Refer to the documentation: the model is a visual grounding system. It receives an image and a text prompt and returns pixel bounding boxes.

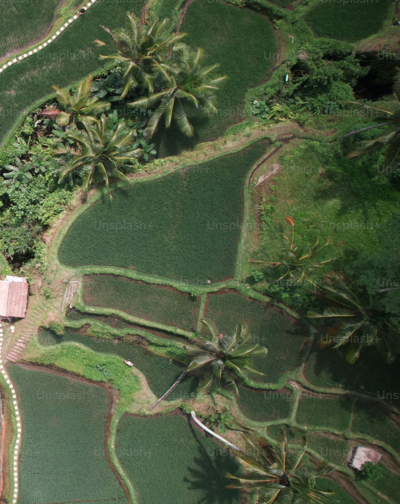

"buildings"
[343,443,382,472]
[0,278,29,320]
